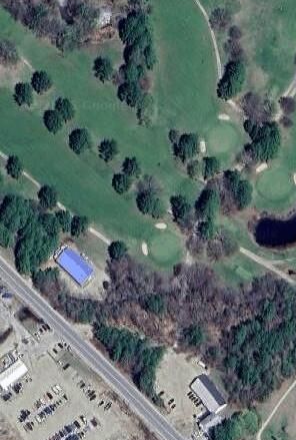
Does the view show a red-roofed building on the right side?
No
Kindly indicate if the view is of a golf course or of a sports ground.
golf course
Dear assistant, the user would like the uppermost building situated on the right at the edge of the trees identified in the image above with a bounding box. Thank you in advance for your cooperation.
[188,374,229,415]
